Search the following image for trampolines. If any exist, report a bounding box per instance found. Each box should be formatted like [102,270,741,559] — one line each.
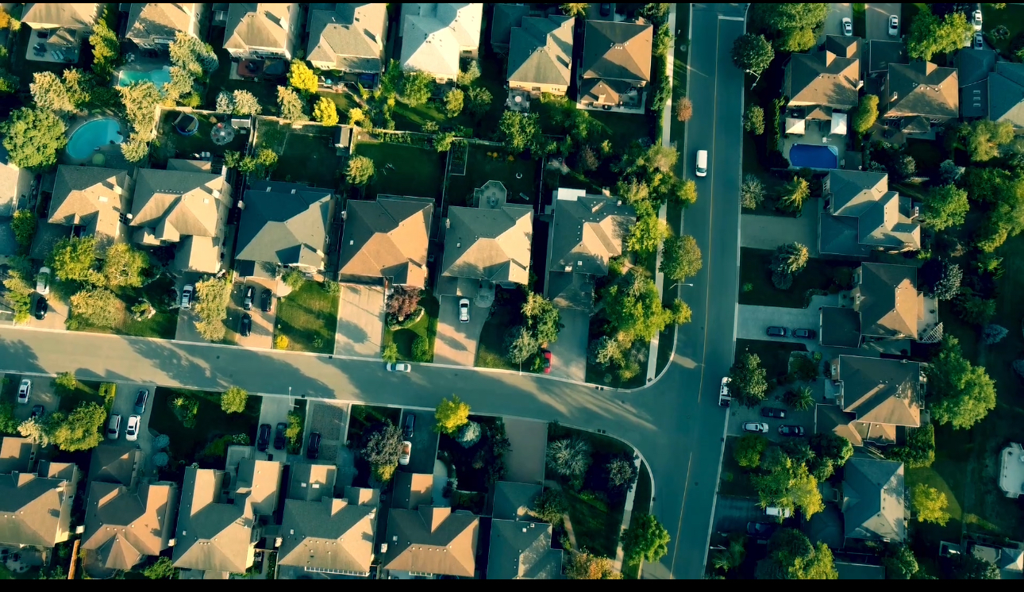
[171,110,197,135]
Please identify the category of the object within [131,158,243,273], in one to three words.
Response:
house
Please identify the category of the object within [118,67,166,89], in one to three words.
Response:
swimming pool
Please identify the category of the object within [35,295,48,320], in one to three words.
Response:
vehicle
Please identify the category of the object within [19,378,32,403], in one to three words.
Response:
vehicle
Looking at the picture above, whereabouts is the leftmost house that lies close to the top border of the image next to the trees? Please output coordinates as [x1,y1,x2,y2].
[20,0,105,46]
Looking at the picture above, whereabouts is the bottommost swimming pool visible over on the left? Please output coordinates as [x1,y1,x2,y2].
[64,116,124,161]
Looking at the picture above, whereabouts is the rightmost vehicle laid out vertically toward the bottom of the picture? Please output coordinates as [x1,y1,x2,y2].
[719,377,731,408]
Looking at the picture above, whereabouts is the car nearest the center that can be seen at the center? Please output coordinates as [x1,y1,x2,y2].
[458,297,470,322]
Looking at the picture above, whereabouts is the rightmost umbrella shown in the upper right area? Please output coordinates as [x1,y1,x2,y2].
[827,113,849,134]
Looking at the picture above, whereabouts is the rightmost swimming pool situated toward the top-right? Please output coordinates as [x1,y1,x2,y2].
[787,141,839,169]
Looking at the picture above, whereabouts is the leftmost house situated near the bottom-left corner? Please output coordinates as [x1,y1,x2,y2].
[0,436,84,550]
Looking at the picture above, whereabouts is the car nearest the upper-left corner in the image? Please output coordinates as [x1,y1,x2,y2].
[38,267,50,292]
